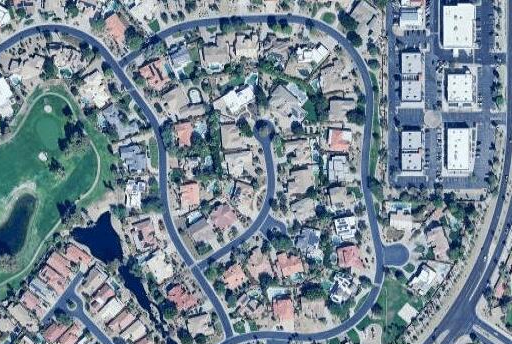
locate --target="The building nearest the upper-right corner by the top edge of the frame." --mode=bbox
[443,2,477,48]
